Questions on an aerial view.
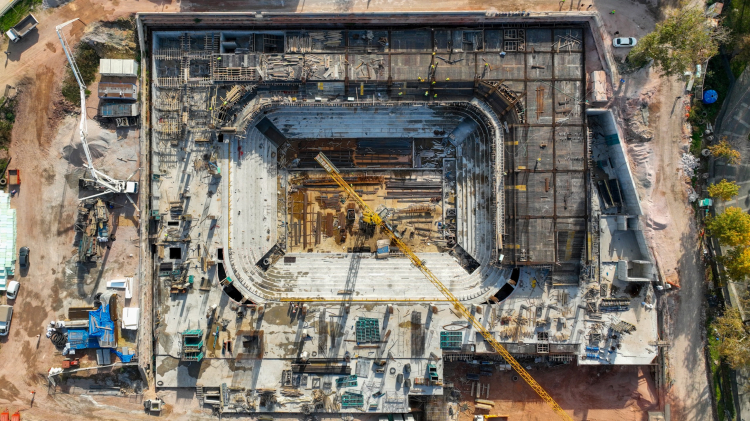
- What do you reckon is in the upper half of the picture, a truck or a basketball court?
truck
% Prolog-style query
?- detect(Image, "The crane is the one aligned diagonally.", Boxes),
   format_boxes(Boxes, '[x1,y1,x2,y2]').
[315,149,576,421]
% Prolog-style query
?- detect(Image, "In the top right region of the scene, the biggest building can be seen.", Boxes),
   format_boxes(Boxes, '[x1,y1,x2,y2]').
[587,70,607,105]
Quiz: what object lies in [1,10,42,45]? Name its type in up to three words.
truck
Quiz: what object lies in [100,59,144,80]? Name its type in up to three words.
building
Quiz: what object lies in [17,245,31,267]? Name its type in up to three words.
vehicle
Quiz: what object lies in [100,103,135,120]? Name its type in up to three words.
building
